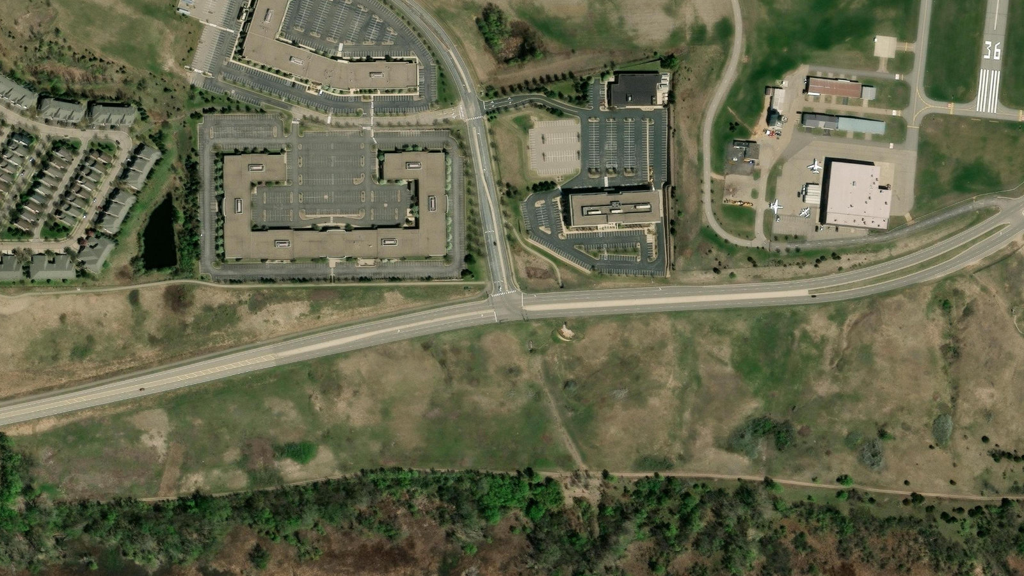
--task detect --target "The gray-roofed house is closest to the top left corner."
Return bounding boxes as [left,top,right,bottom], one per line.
[0,73,37,109]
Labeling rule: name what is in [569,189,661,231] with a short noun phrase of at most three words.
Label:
building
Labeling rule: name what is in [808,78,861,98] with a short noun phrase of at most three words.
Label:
shed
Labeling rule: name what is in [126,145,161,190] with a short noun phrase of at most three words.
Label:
house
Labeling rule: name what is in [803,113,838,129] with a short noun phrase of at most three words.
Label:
shed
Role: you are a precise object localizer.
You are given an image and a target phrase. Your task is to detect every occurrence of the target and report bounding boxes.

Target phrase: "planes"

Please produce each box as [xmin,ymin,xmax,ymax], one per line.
[801,208,810,217]
[807,159,822,173]
[769,199,782,214]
